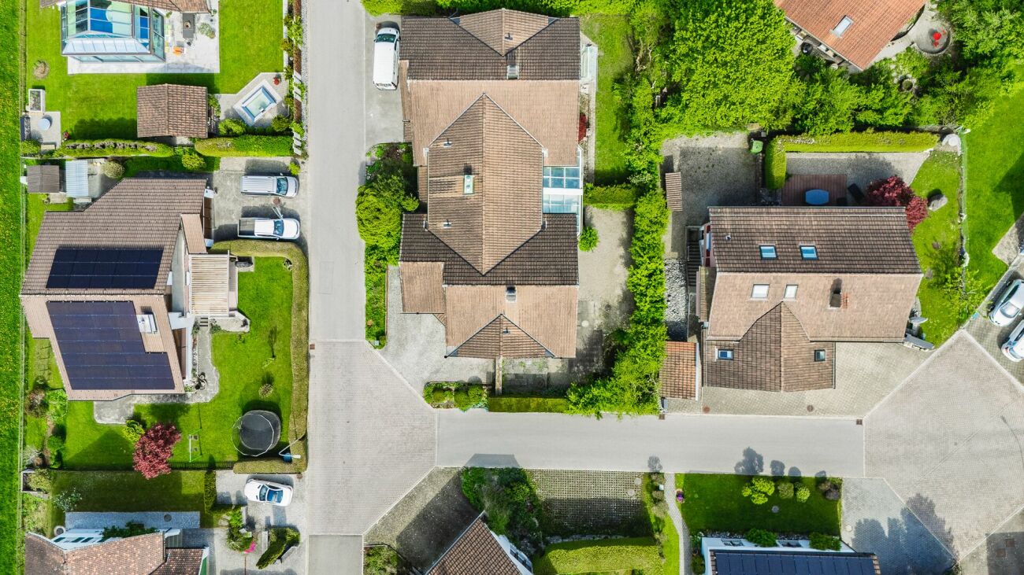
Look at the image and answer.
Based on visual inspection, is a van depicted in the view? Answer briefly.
Yes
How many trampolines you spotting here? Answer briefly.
1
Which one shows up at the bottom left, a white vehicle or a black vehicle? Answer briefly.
white vehicle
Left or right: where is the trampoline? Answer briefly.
left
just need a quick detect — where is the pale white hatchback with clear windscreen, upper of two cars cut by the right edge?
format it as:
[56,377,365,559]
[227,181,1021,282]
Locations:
[990,269,1024,325]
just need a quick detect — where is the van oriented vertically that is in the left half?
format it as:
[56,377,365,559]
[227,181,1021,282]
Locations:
[370,27,401,91]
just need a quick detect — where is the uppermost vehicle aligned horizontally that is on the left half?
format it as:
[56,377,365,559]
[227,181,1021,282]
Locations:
[234,171,299,201]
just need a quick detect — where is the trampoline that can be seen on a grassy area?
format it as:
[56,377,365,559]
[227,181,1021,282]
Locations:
[230,409,282,457]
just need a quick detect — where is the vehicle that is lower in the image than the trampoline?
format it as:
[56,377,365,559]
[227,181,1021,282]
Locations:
[243,476,297,506]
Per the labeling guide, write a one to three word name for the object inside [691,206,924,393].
house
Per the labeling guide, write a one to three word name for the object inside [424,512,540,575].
house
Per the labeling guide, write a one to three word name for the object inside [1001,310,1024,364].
car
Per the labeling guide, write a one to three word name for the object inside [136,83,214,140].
building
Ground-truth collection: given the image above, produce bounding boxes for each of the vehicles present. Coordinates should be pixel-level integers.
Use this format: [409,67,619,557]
[243,476,297,506]
[1001,310,1024,364]
[234,171,299,201]
[370,27,401,91]
[233,203,303,242]
[990,269,1024,325]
